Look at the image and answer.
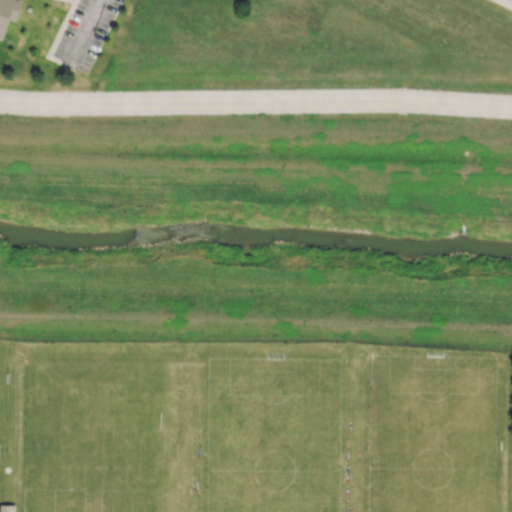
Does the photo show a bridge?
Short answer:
No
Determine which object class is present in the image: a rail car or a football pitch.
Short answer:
football pitch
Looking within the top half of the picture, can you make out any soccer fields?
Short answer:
No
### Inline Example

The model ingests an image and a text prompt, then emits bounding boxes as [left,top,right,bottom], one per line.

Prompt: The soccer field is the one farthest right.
[370,356,498,512]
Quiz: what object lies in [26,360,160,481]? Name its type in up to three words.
soccer field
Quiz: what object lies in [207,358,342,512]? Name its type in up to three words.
soccer field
